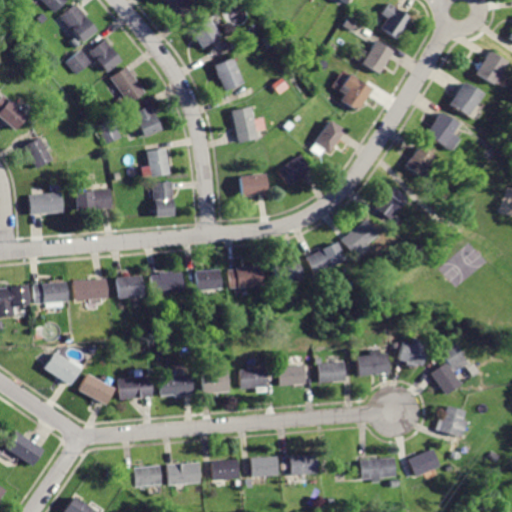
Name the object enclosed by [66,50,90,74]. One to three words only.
building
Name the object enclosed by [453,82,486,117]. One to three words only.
house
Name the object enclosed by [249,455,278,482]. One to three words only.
house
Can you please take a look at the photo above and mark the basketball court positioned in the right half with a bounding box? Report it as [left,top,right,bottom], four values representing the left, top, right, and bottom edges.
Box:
[440,244,485,287]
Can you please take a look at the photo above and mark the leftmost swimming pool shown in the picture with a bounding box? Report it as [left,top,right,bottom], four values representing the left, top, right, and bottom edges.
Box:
[40,322,62,342]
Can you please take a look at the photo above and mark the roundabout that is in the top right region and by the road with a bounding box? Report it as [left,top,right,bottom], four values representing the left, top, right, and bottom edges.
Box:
[434,0,486,36]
